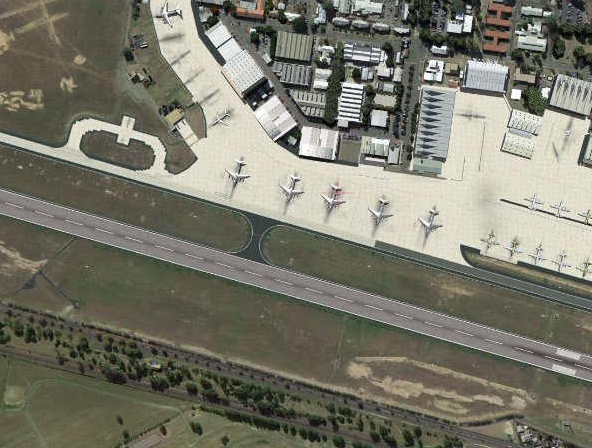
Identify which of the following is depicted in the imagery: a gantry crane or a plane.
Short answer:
plane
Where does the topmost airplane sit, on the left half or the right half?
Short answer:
left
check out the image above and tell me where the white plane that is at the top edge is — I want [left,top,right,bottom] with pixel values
[155,1,183,26]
